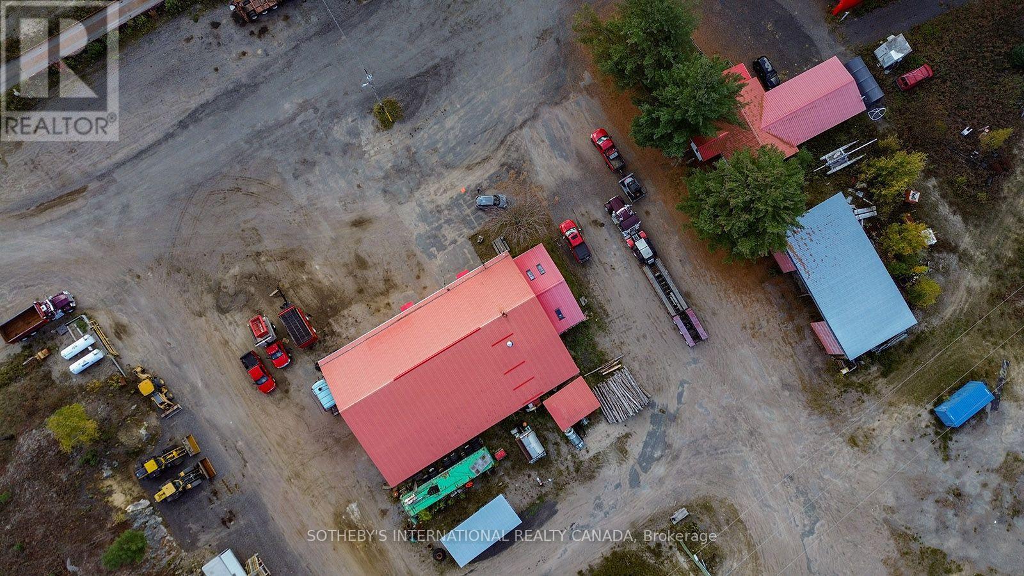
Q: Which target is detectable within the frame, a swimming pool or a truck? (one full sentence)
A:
This aerial view contains a truck.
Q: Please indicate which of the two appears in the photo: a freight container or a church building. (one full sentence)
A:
Visible in the photo is a freight container.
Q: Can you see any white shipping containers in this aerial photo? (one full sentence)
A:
No, no white shipping container can be seen from above.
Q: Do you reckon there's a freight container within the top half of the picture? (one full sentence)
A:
No, no freight container can be made out within the top half of the picture.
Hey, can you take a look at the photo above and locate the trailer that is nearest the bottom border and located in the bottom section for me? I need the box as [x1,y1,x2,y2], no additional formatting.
[205,542,256,576]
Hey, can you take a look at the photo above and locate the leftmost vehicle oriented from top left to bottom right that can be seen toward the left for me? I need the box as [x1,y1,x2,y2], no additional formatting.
[131,372,183,417]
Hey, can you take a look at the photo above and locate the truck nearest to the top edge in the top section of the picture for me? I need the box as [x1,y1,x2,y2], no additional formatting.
[222,0,272,27]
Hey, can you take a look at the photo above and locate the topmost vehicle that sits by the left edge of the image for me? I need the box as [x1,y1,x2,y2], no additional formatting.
[0,290,77,345]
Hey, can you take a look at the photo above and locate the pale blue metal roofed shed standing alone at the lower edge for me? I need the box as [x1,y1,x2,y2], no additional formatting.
[440,492,522,567]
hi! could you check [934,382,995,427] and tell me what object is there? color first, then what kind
blue shipping container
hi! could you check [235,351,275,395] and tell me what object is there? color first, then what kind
red truck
